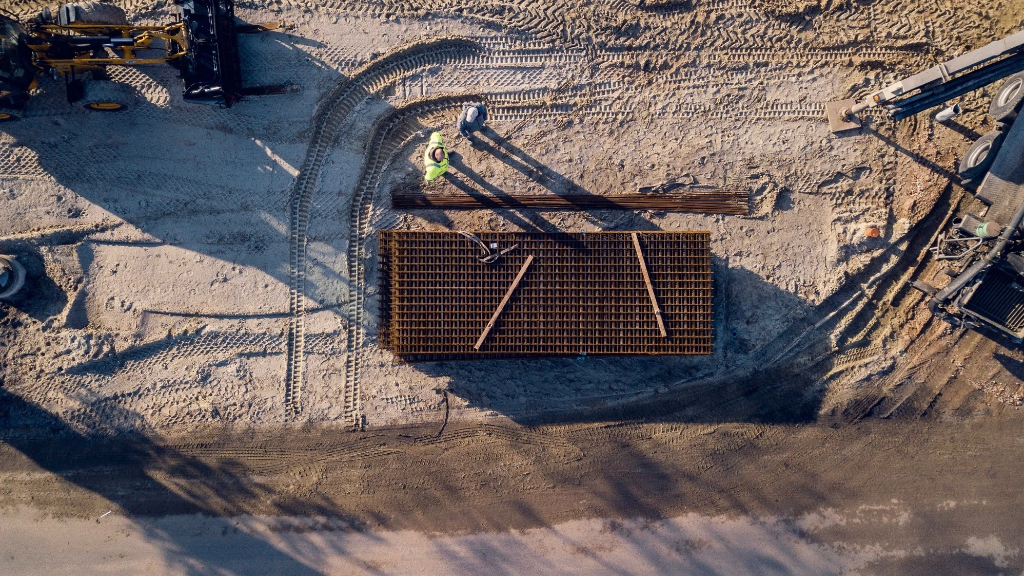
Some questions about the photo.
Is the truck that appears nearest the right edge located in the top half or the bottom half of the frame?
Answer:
top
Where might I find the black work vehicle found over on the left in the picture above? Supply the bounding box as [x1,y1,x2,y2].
[0,2,185,122]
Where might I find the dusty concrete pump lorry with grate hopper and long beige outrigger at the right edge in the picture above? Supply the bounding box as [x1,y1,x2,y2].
[826,27,1024,349]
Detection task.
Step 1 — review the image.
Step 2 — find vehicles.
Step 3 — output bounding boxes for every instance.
[826,27,1024,349]
[0,2,185,122]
